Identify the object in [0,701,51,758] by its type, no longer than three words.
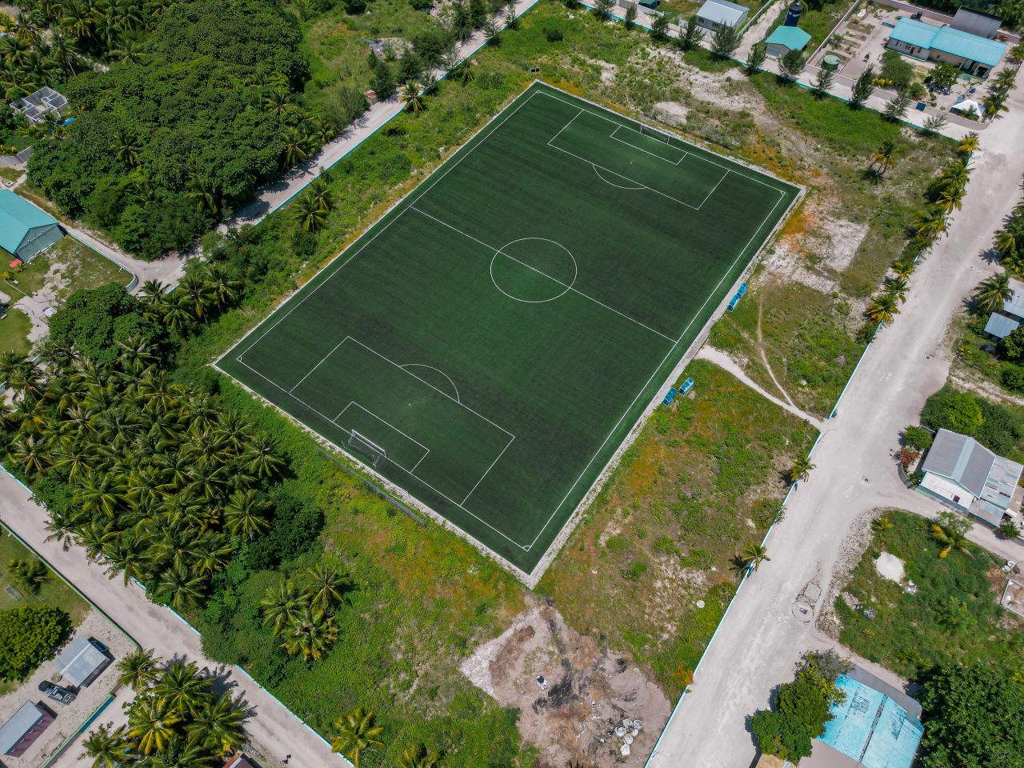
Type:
shed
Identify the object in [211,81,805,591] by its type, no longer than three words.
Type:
soccer field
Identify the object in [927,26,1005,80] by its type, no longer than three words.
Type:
house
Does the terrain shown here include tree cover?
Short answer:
Yes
